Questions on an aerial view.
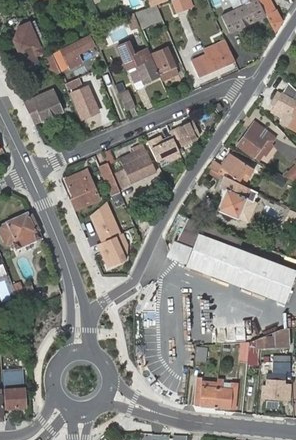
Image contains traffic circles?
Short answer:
Yes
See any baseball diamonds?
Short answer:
No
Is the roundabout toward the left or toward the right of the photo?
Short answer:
left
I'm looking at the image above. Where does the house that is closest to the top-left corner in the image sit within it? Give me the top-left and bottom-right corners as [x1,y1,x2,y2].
[14,20,42,64]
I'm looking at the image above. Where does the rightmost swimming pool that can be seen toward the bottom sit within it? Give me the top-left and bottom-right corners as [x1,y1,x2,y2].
[16,254,36,281]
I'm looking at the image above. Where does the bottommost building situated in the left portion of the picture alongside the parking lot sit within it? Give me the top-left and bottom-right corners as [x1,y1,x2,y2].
[98,234,131,272]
